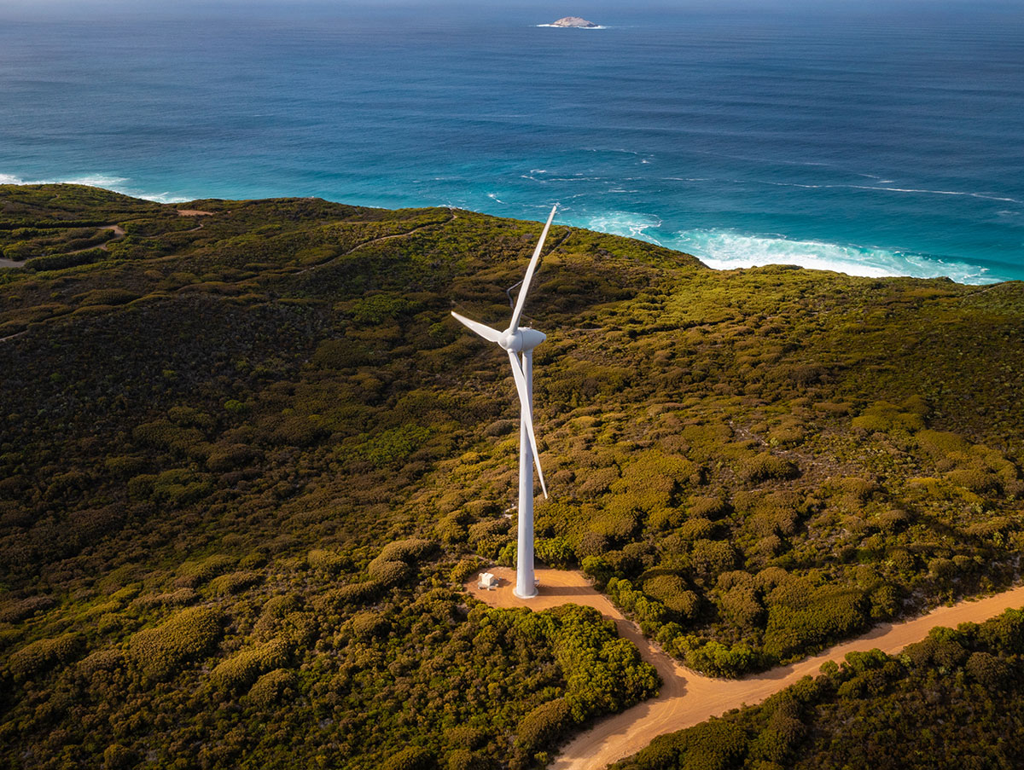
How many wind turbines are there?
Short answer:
1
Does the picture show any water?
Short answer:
Yes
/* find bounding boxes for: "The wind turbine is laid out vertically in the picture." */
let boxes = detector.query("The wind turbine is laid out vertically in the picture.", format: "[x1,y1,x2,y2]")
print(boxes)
[451,202,552,597]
